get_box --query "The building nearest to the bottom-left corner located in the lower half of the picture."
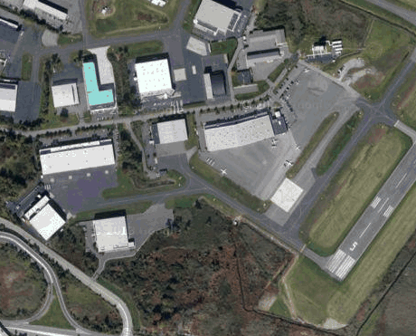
[24,196,66,240]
